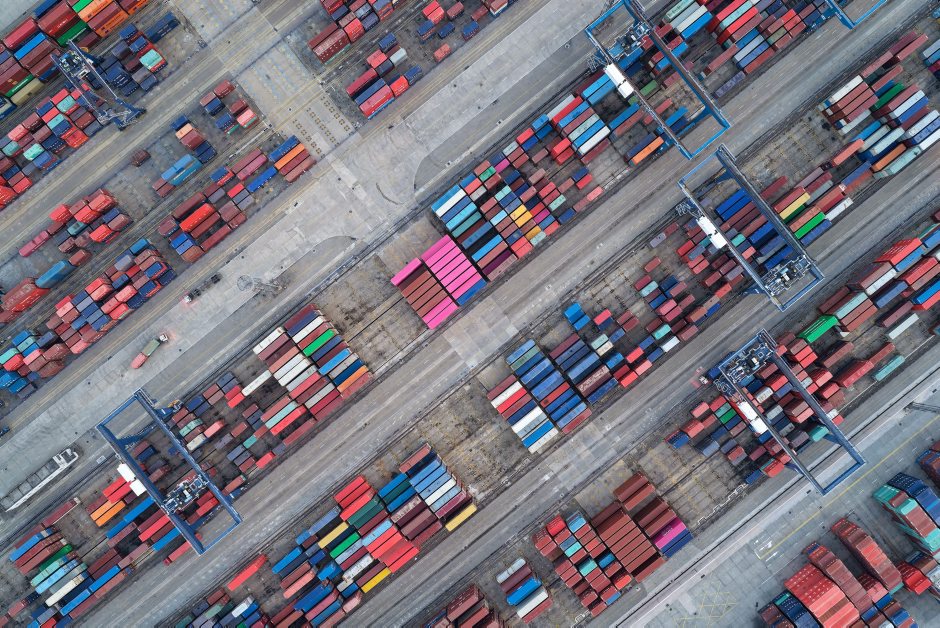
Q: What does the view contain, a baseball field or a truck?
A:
truck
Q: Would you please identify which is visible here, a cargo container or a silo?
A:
cargo container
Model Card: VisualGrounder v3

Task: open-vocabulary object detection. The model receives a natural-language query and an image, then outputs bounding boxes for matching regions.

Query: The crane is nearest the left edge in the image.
[44,33,148,129]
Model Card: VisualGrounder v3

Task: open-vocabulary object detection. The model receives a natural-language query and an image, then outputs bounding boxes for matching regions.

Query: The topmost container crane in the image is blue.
[794,0,890,46]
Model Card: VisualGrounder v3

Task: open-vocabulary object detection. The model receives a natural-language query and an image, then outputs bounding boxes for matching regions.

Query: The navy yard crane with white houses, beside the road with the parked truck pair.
[95,386,258,560]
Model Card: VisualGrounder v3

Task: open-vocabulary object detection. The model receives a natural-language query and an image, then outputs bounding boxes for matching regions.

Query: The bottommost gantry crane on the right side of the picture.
[701,323,871,499]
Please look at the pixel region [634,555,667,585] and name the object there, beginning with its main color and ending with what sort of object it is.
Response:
red shipping container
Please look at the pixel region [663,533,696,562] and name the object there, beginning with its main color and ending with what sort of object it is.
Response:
blue shipping container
